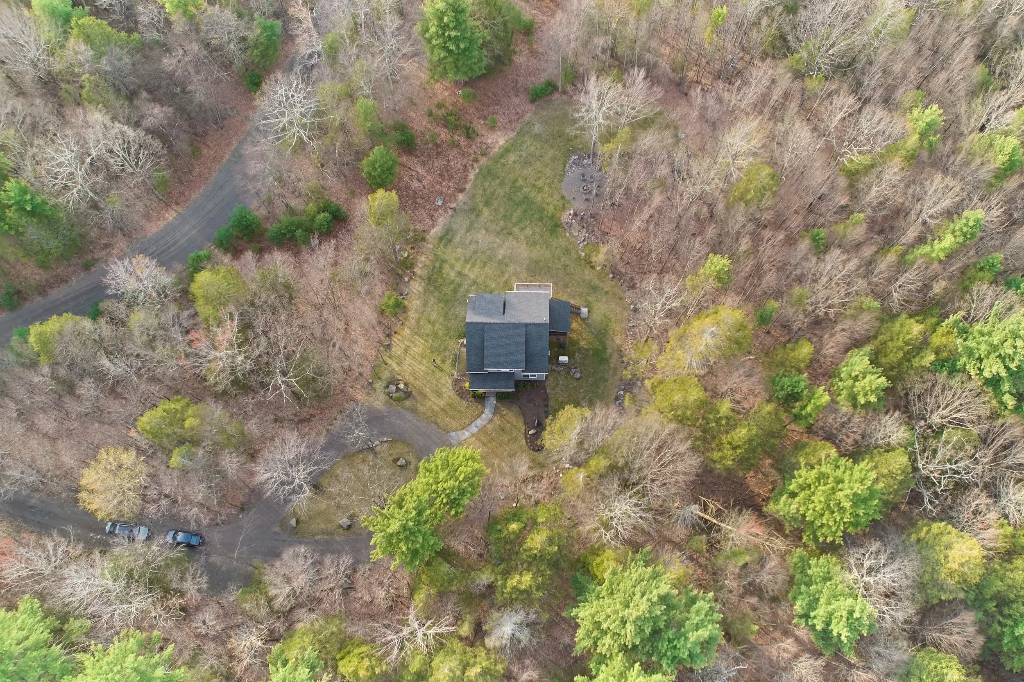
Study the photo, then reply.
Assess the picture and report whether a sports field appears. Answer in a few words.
No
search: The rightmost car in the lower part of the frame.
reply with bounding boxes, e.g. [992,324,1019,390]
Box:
[165,527,203,548]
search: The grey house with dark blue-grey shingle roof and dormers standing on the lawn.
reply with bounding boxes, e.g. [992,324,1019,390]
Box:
[466,289,550,397]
